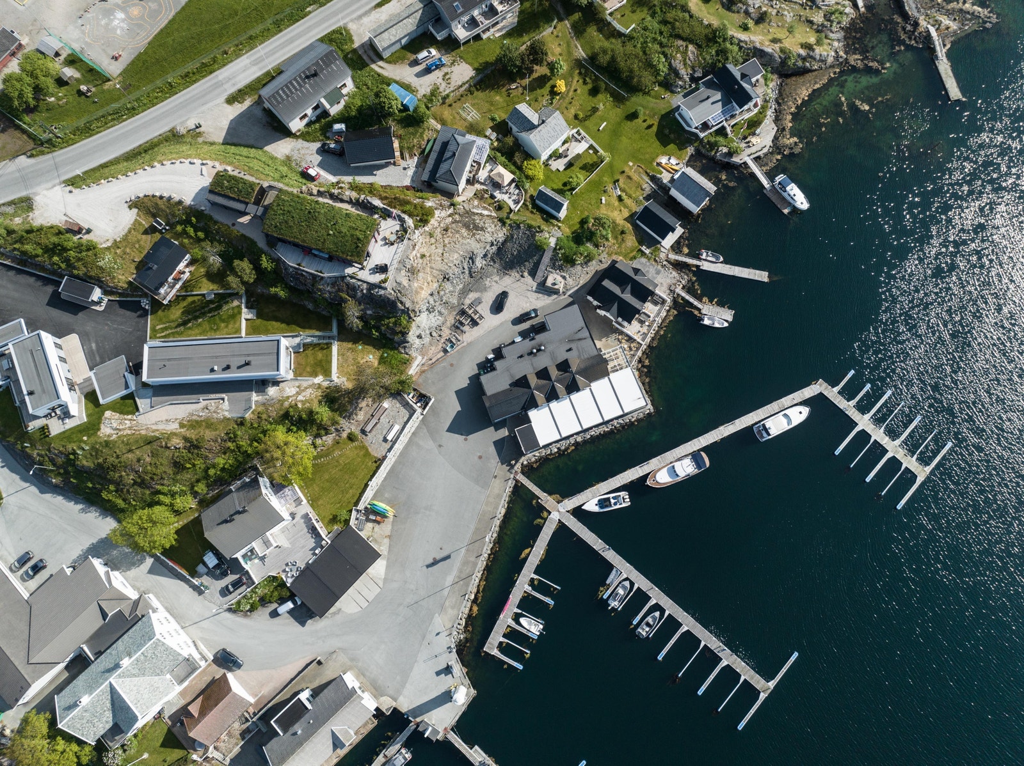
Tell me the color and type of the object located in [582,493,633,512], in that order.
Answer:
white boat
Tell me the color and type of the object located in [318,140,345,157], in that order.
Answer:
black car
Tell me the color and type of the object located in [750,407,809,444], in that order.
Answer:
white boat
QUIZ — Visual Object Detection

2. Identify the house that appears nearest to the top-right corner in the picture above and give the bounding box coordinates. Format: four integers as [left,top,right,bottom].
[674,57,765,143]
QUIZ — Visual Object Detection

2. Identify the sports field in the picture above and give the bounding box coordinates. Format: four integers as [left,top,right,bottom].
[116,0,299,89]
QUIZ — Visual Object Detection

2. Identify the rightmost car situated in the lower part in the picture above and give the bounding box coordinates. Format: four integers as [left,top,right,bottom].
[271,595,304,619]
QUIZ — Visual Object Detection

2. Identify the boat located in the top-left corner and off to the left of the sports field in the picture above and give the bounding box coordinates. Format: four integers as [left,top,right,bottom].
[78,85,96,98]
